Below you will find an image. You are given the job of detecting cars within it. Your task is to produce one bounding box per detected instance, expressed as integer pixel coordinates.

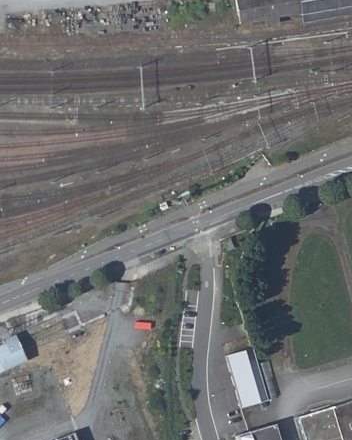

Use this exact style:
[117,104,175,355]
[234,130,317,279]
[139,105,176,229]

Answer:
[167,244,178,252]
[158,248,168,255]
[228,410,238,416]
[183,324,194,328]
[184,312,195,317]
[230,418,240,424]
